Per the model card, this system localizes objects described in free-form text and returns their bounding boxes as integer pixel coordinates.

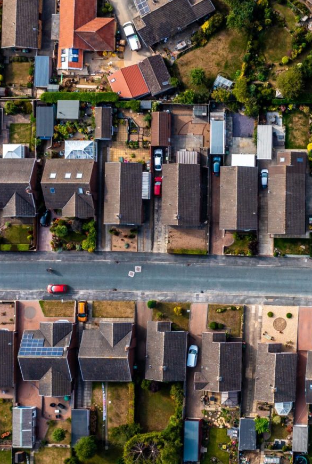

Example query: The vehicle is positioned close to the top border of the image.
[122,20,144,52]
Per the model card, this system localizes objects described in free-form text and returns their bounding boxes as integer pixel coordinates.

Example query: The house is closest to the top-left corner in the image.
[2,0,42,50]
